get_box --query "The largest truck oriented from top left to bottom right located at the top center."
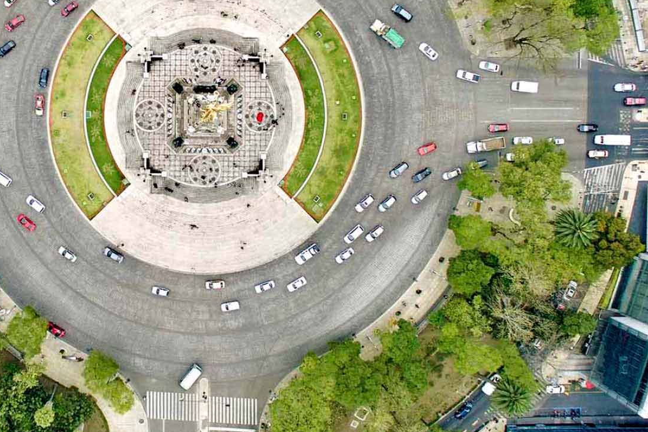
[370,21,405,48]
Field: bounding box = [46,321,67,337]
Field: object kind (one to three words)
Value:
car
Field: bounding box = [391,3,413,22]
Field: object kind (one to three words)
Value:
car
